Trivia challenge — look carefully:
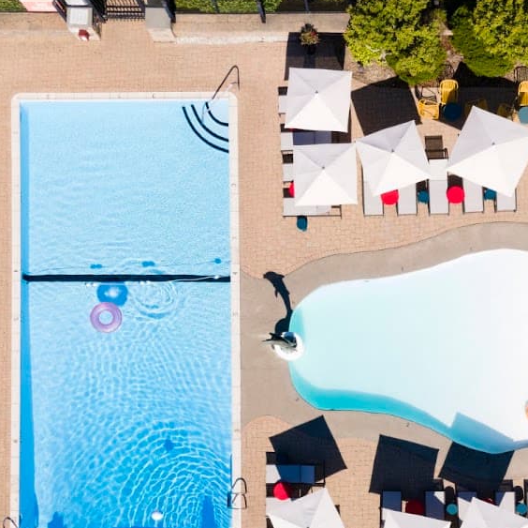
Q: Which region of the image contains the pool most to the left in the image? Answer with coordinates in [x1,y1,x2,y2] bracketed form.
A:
[7,92,240,528]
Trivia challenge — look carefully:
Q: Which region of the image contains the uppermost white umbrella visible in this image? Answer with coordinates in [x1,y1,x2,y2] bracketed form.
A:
[283,66,351,133]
